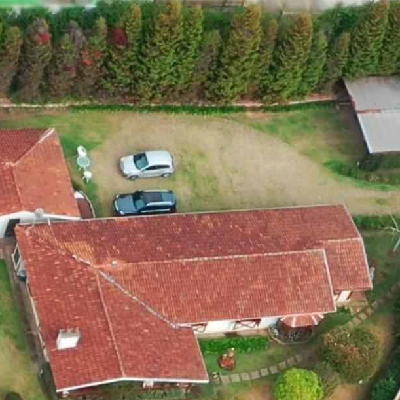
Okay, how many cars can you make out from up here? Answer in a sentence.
The photo contains 2 cars.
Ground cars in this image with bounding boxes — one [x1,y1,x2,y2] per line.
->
[111,185,181,217]
[116,149,179,184]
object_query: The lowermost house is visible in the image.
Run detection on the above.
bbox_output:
[17,204,376,400]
